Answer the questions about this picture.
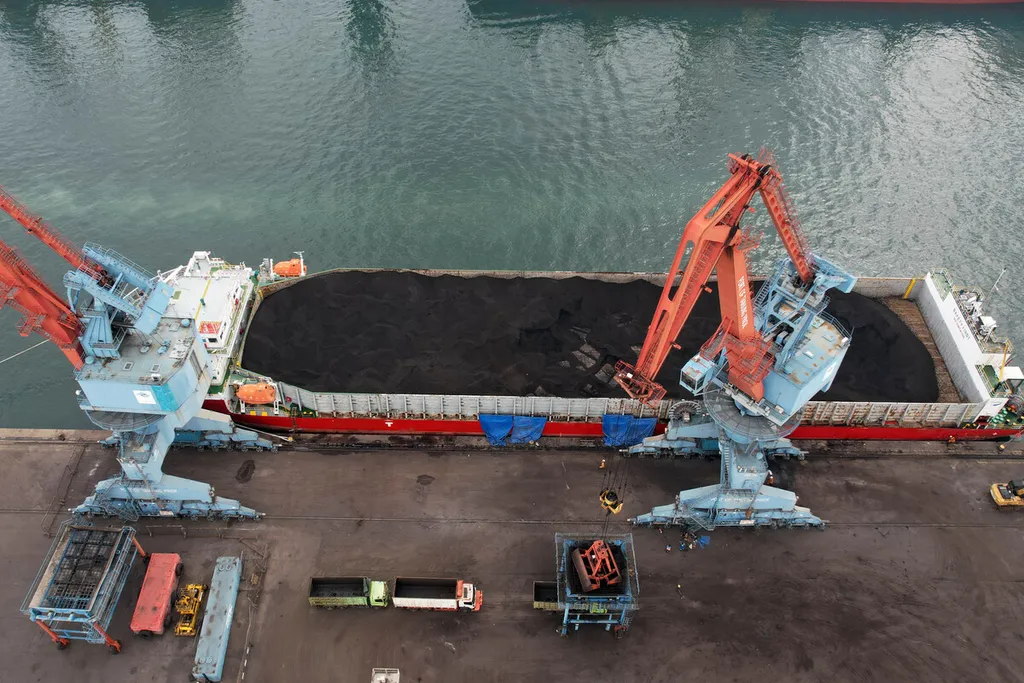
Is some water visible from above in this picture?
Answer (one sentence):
Yes, water shows up in the scene.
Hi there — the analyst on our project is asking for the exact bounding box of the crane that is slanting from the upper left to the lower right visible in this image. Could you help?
[0,192,281,534]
